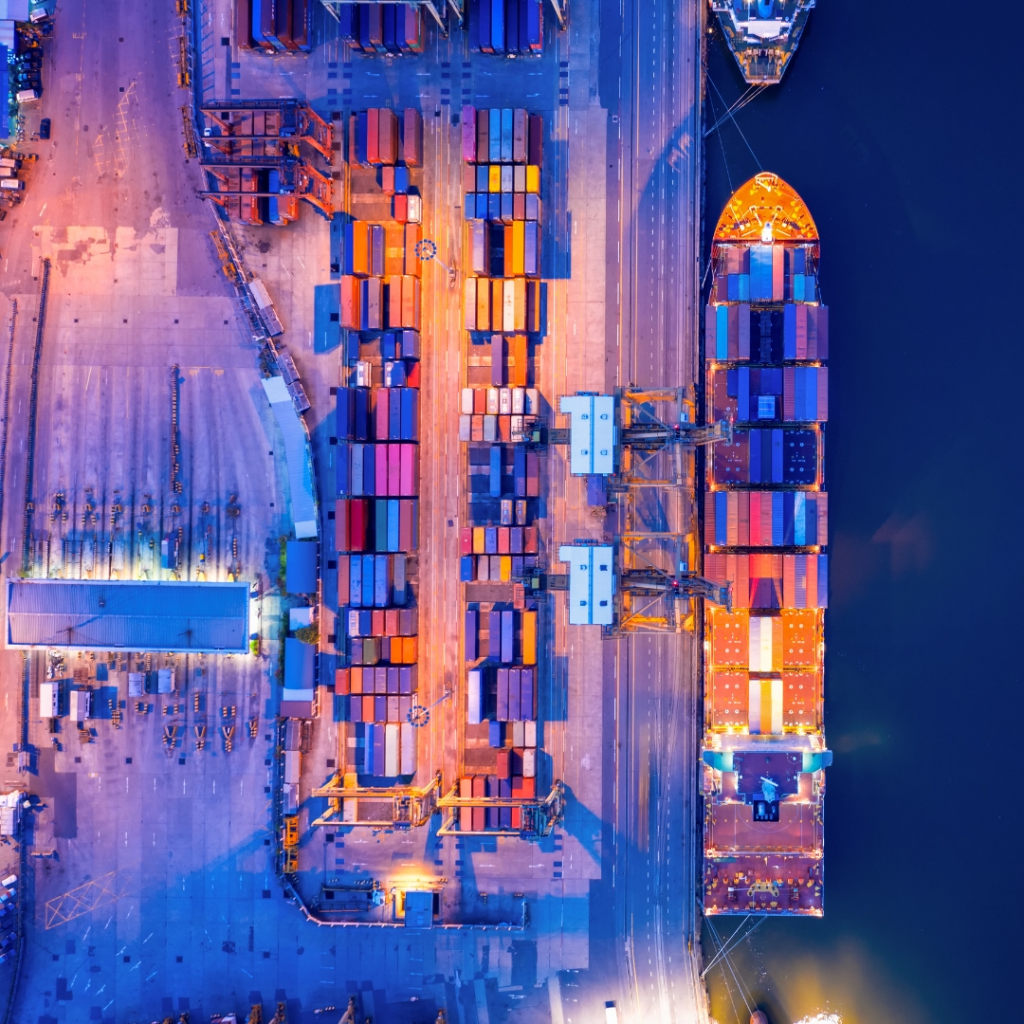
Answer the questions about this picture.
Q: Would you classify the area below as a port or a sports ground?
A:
port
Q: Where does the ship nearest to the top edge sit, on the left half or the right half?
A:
right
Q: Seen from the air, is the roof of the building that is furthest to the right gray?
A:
No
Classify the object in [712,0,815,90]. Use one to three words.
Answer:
ship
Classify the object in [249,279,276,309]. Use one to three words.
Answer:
building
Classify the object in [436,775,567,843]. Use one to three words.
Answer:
container crane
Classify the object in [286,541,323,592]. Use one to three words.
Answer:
building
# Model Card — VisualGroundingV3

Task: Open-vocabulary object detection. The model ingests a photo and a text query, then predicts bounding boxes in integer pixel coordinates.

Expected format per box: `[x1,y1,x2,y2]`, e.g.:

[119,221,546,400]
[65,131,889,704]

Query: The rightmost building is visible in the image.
[405,883,437,929]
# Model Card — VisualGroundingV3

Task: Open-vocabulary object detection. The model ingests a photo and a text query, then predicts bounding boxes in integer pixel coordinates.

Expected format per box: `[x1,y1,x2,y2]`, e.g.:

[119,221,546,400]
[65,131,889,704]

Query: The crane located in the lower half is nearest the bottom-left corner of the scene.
[309,765,445,834]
